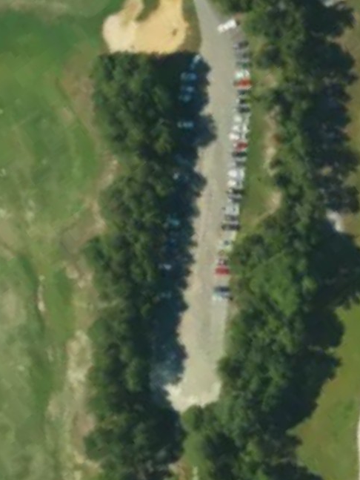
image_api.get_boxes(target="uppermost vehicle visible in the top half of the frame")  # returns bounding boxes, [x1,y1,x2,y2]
[218,17,237,31]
